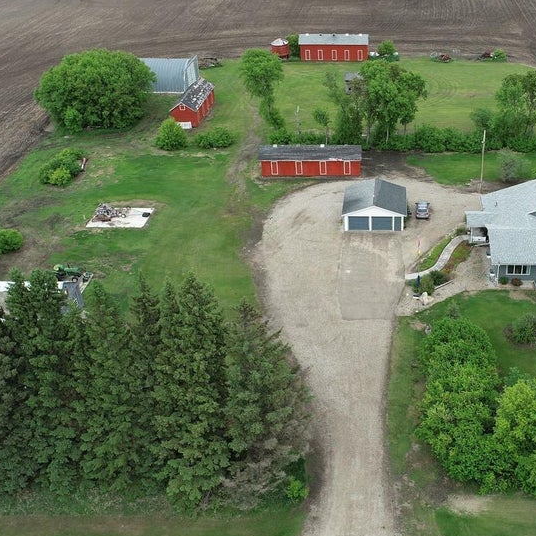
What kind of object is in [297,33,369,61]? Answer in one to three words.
shed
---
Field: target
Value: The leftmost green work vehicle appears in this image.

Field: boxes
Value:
[43,263,82,281]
